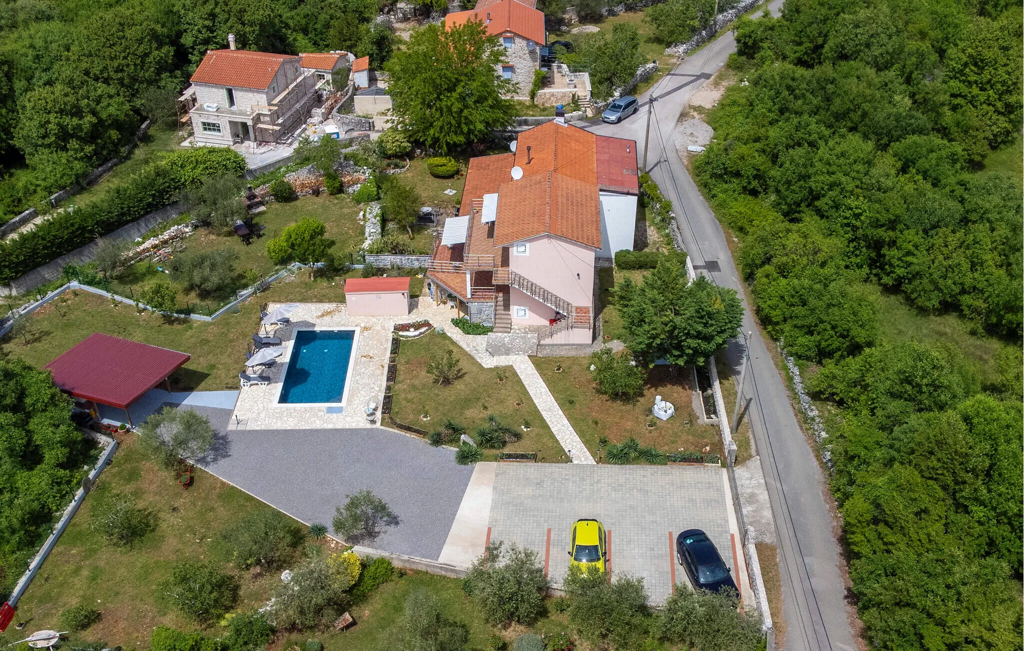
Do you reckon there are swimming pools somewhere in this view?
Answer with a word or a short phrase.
Yes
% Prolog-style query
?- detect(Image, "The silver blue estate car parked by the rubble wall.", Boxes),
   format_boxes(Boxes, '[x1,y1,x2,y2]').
[600,95,638,123]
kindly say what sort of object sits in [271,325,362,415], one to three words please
swimming pool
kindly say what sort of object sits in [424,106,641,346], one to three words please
house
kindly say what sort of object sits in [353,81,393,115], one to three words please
shed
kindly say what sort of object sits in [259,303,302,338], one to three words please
umbrella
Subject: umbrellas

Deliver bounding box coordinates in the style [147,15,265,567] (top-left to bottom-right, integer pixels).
[259,303,302,338]
[243,343,285,378]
